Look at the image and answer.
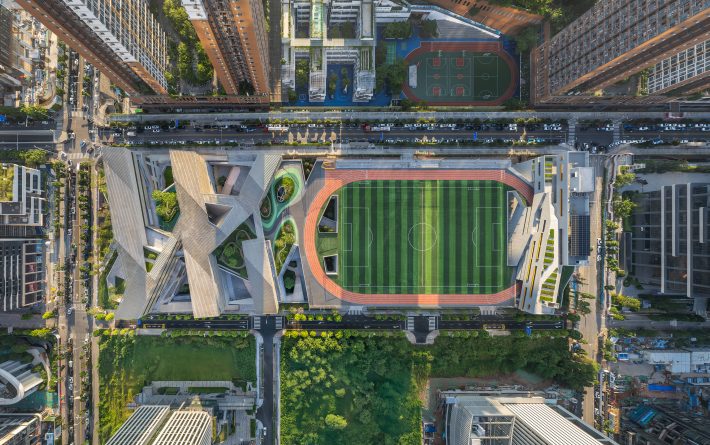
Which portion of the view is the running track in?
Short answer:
center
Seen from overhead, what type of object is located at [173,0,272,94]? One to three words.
building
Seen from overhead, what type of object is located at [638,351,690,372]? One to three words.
building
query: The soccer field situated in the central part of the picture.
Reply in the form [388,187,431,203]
[316,179,528,293]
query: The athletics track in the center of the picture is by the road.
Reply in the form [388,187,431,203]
[303,168,529,306]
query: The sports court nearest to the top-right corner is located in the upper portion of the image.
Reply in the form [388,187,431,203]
[404,41,519,106]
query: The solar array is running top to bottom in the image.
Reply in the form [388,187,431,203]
[571,216,589,256]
